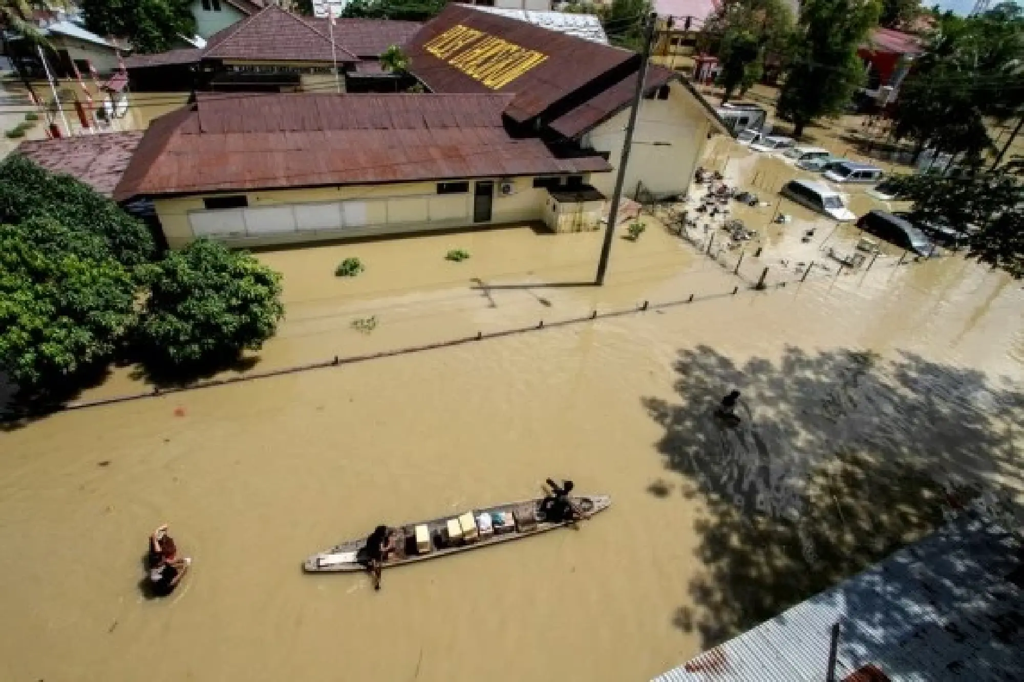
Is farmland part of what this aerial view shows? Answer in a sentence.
No, the picture contains no farmland.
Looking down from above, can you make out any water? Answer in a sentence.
Yes, there is water in the image.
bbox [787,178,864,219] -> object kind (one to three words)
vehicle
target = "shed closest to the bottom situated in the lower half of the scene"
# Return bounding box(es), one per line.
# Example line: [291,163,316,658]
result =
[656,478,1024,682]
